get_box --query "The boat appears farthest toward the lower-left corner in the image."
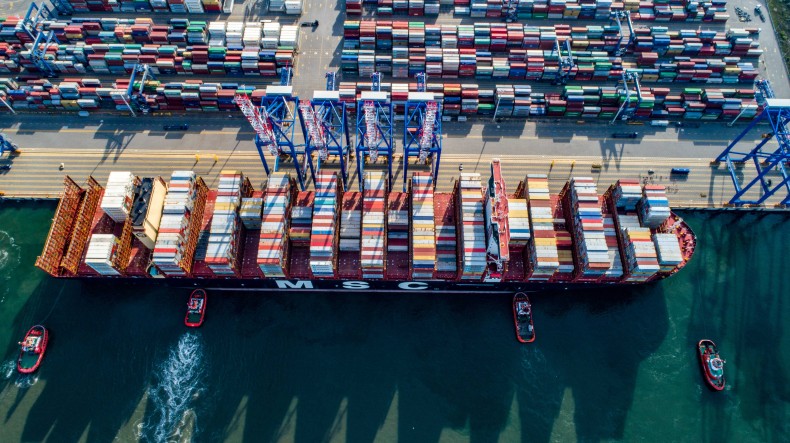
[17,324,46,374]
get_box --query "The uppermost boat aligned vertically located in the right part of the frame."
[513,293,535,343]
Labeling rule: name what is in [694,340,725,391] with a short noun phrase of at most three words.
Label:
boat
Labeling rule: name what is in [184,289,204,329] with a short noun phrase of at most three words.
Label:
boat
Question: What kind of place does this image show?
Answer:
port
